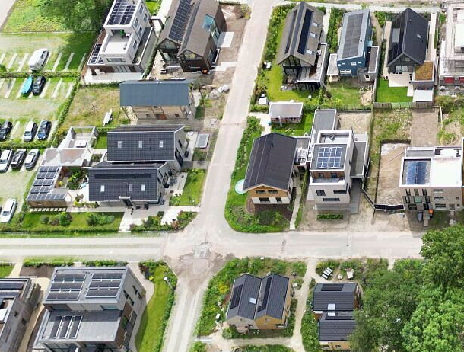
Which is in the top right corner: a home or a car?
home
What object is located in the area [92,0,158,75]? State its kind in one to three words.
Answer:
house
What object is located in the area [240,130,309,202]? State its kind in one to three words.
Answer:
house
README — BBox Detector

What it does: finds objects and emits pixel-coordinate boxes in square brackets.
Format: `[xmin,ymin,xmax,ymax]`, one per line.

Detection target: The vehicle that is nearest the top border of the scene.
[30,46,49,71]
